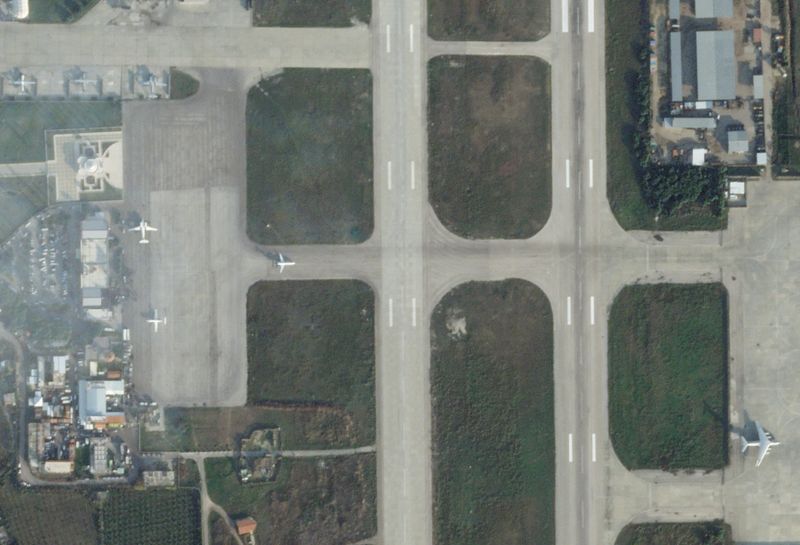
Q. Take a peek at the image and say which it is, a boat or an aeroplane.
aeroplane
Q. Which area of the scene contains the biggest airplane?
bottom right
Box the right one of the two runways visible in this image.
[551,0,610,545]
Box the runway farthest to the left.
[372,0,431,545]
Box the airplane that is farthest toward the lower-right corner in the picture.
[742,421,780,466]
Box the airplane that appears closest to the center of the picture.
[272,254,295,273]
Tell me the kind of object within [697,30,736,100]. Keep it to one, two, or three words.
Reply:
building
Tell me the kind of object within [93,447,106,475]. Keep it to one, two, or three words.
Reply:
building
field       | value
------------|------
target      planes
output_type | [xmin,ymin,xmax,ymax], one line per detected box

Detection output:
[148,309,163,333]
[272,254,295,273]
[129,219,157,243]
[73,73,96,96]
[742,421,780,466]
[12,75,34,94]
[141,76,164,98]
